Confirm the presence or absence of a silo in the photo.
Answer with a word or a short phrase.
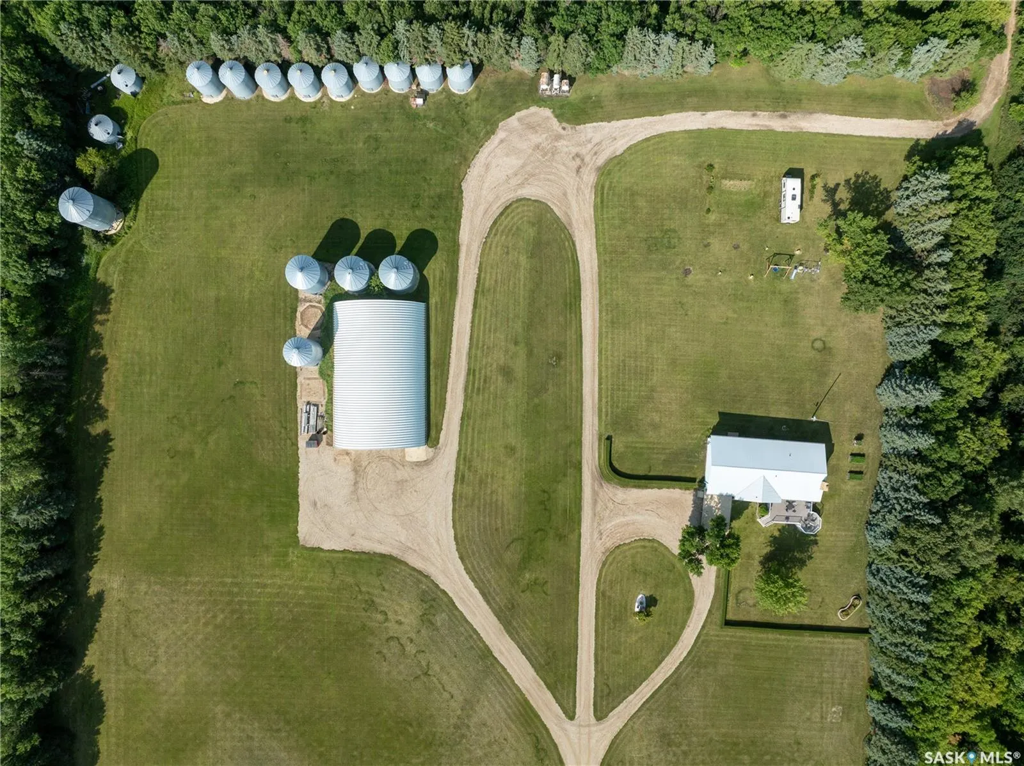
Yes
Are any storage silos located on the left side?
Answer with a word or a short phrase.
Yes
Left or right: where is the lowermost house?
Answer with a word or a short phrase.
right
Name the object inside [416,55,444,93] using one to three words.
silo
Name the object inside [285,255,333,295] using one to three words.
silo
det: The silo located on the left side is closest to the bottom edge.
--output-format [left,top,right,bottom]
[283,336,322,367]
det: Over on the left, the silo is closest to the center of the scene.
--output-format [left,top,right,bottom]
[378,256,417,294]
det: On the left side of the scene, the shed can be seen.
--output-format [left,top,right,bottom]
[333,299,426,449]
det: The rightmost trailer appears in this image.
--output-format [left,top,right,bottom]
[778,177,801,232]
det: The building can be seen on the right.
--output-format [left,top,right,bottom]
[704,435,827,503]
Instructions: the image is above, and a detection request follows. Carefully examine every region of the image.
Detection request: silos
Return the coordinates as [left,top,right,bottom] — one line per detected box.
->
[334,256,375,295]
[285,255,333,295]
[416,55,444,93]
[58,187,127,235]
[384,55,414,93]
[186,60,225,99]
[353,55,384,93]
[378,256,417,294]
[255,62,289,100]
[288,62,321,100]
[219,60,256,99]
[446,55,473,93]
[88,115,123,146]
[283,336,322,367]
[321,62,353,100]
[111,63,146,96]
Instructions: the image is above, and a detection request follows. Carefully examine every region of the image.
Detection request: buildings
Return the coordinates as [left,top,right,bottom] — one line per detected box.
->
[333,299,426,449]
[704,435,827,503]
